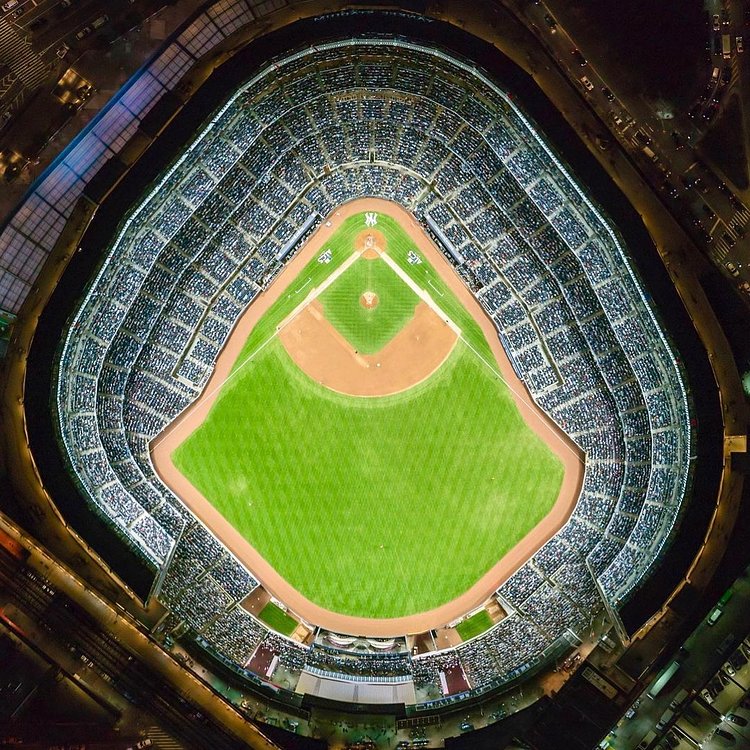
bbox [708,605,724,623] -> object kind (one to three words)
vehicle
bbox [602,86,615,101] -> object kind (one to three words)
vehicle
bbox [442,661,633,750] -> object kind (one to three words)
building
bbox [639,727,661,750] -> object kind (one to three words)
truck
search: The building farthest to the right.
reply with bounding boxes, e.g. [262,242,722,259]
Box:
[727,436,746,471]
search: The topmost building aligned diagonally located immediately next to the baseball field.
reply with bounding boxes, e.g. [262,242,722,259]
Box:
[0,0,264,316]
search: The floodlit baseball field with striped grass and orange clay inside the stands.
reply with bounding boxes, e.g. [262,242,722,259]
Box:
[150,198,586,635]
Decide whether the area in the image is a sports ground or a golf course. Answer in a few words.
sports ground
